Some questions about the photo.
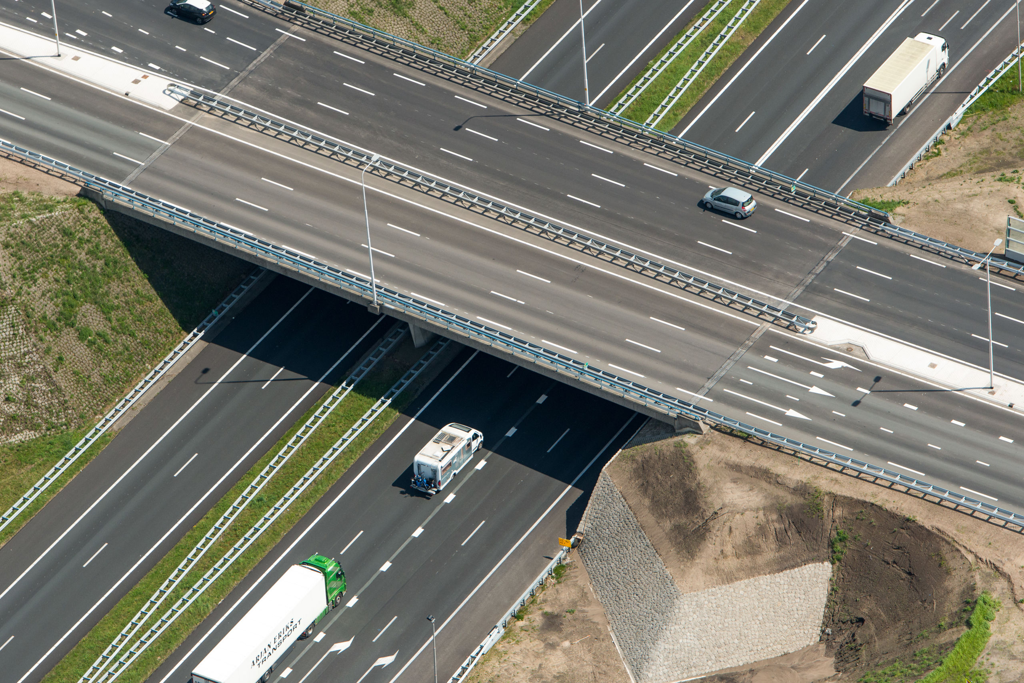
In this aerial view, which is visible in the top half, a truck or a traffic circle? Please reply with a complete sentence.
What appears in the top half is a truck.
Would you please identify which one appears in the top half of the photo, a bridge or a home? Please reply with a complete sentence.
You can see a bridge in the top half of the photo.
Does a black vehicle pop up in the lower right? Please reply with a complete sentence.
No, I can find no black vehicle in the lower right.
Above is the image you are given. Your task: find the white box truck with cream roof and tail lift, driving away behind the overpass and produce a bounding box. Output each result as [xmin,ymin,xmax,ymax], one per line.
[863,34,949,128]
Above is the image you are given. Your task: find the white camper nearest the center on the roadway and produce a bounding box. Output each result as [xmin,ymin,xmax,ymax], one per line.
[409,420,484,495]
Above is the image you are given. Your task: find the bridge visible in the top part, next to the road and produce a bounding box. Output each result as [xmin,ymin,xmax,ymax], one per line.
[74,4,898,446]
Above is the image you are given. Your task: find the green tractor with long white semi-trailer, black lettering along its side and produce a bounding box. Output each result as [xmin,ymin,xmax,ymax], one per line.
[192,552,346,683]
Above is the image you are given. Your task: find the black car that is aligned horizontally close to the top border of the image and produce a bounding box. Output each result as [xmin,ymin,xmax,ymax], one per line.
[169,0,218,24]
